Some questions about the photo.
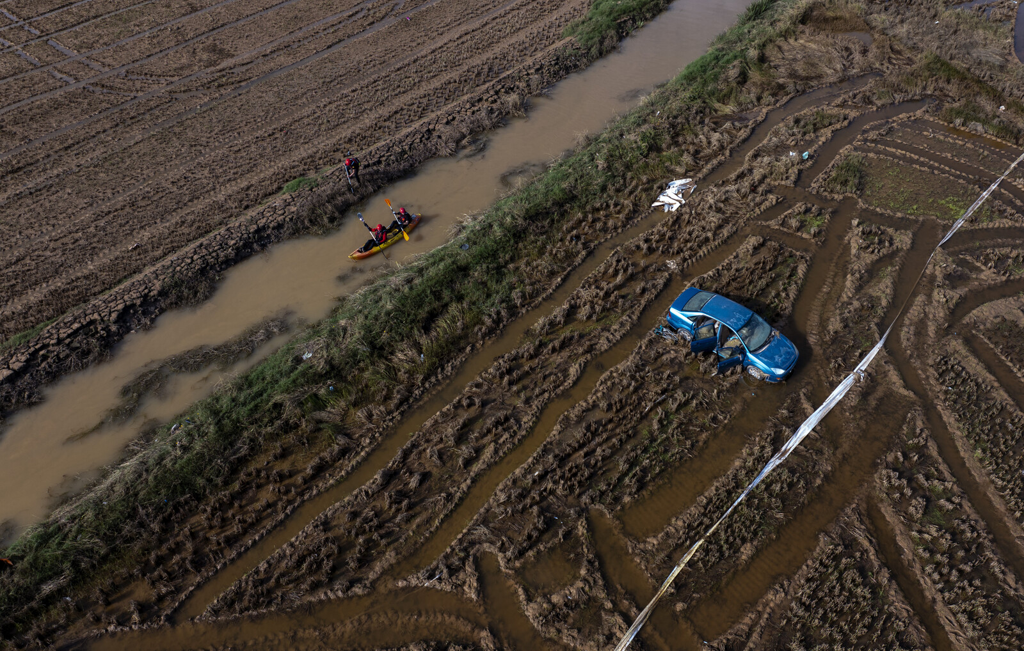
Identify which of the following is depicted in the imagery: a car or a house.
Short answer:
car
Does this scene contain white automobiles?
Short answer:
No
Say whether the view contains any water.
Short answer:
Yes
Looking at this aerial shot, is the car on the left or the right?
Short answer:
right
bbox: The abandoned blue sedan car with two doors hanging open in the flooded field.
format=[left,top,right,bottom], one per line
[668,289,803,390]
